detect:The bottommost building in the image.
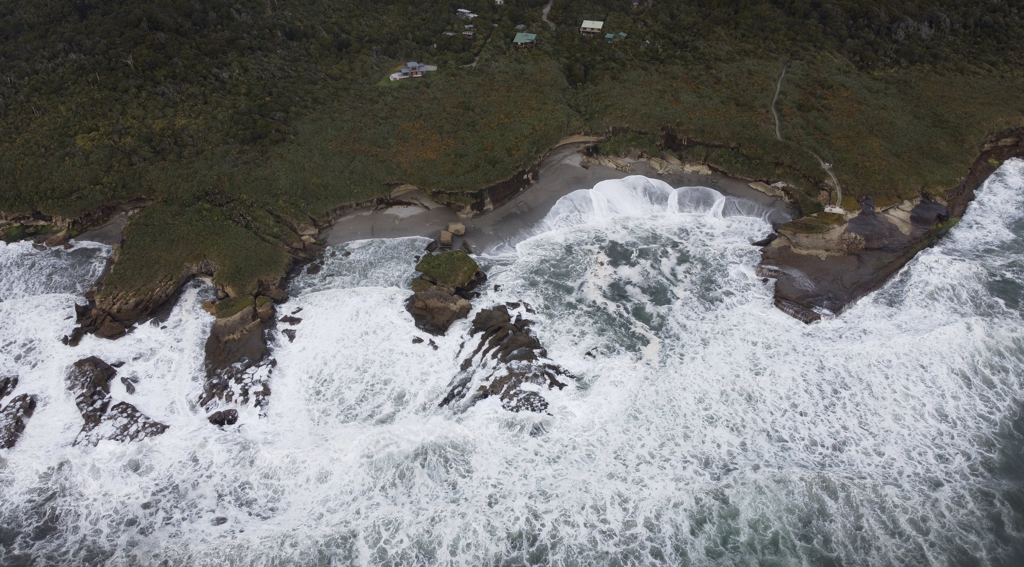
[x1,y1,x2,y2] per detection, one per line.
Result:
[399,64,430,83]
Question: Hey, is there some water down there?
Yes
